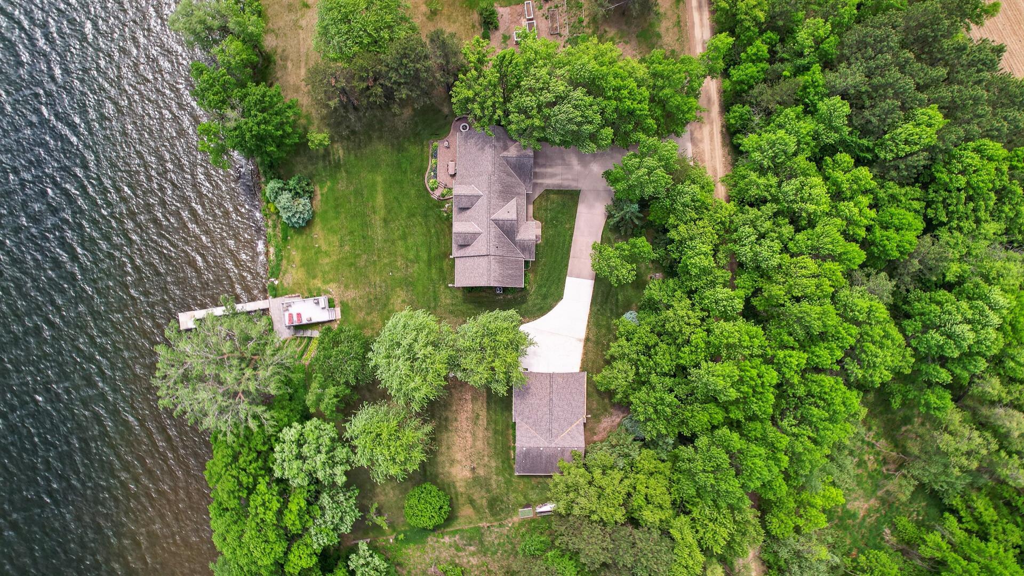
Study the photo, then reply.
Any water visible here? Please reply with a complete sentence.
Yes, water shows up in the scene.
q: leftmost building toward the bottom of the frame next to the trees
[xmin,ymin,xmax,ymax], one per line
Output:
[512,371,591,475]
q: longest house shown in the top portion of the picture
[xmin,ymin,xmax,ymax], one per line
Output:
[447,126,536,287]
